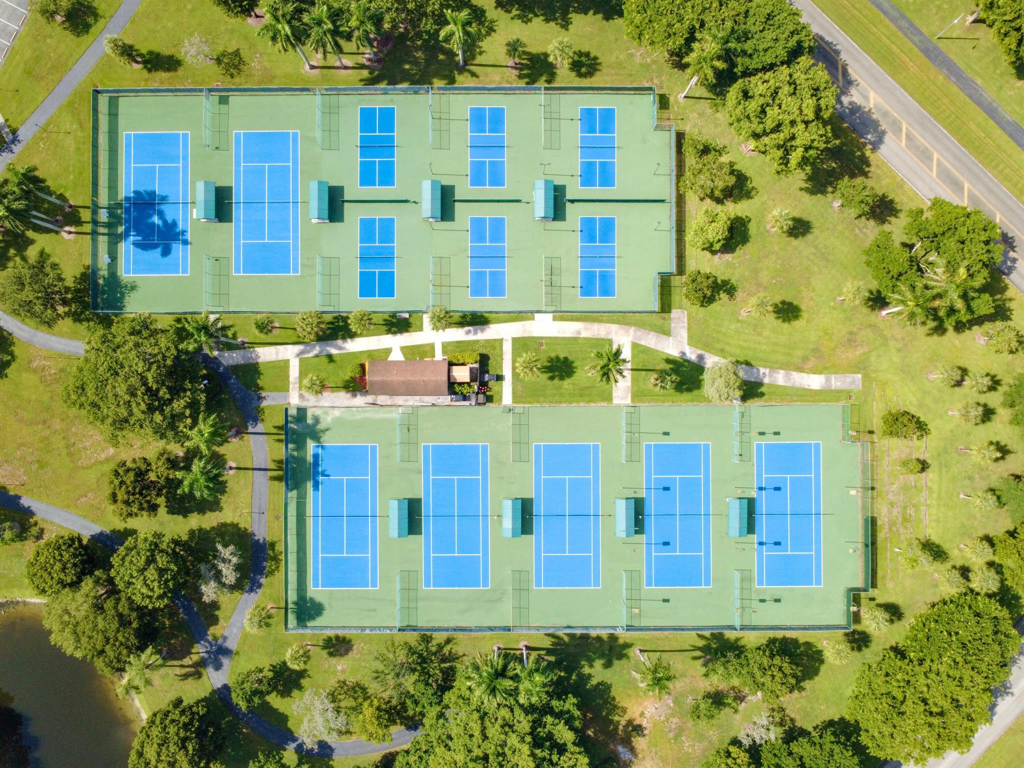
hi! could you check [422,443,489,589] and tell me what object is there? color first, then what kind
blue tennis court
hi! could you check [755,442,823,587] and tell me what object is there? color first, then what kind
blue tennis court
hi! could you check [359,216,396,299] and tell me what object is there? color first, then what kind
blue sports court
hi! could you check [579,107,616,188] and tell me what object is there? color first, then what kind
blue sports court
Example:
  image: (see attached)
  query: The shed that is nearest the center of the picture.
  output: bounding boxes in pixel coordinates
[450,366,470,382]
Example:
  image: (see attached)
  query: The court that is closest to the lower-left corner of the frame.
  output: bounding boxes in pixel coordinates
[312,444,378,589]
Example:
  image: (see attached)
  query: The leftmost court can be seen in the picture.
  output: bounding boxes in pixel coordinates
[123,132,189,275]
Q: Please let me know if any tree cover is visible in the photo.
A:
Yes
